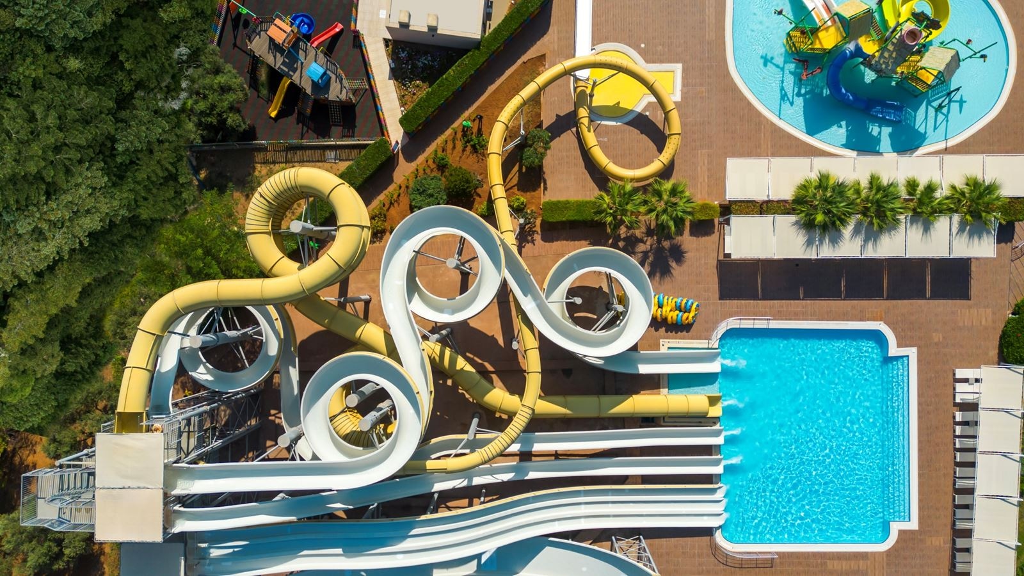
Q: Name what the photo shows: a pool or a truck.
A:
pool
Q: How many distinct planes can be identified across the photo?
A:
0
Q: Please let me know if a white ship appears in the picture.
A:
No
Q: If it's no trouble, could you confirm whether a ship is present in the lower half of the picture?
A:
No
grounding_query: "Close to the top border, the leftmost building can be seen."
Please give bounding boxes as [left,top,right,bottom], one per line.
[384,0,493,52]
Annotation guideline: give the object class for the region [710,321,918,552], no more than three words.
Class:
swimming pool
